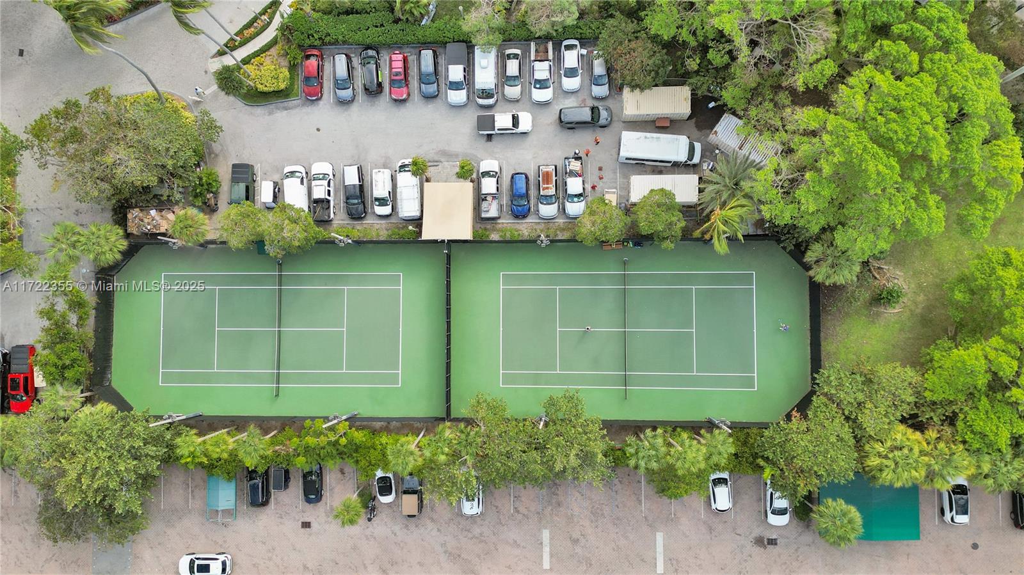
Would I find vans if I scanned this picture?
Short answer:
Yes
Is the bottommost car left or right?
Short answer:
left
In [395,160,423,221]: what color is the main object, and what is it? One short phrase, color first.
white van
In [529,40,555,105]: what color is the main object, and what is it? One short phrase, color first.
white truck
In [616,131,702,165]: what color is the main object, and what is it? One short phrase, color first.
white vehicle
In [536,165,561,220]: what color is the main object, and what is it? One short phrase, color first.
white car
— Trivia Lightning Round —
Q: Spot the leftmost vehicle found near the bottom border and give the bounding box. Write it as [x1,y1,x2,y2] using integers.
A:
[181,551,234,575]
